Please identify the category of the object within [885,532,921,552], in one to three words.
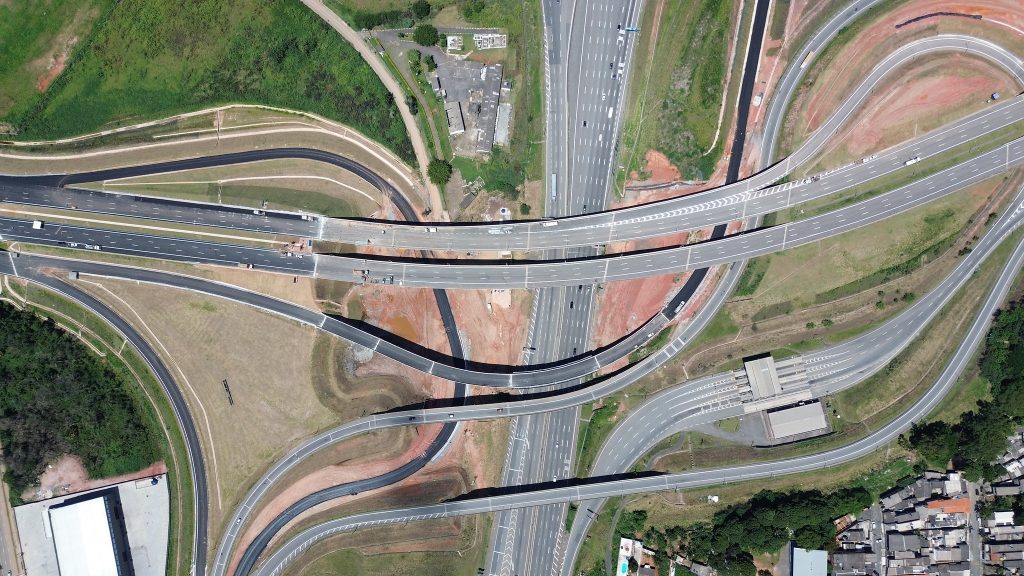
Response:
house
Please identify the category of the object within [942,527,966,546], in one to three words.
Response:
house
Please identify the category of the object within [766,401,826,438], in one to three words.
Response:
building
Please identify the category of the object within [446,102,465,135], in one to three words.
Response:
building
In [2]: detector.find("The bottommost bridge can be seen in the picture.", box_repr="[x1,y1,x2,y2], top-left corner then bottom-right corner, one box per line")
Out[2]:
[443,475,669,516]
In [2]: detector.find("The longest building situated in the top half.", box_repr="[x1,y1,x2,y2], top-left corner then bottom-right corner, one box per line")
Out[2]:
[476,64,502,153]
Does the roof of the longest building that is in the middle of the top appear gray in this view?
Yes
